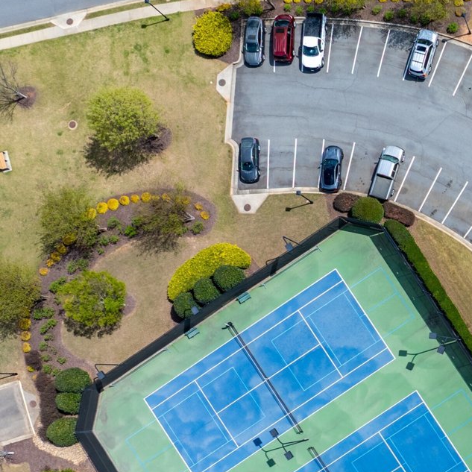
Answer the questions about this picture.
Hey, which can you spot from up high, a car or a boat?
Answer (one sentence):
I can see a car in this picture.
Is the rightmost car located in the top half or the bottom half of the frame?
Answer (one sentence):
The top half of the photo is where the rightmost car is.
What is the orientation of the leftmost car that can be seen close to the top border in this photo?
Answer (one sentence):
In this picture, the leftmost car that can be seen close to the top border is oriented up and down.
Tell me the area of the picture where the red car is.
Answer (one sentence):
The red car is located in the top region of the scene.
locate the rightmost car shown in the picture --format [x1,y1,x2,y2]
[409,29,437,80]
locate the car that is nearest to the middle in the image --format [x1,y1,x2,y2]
[237,136,261,184]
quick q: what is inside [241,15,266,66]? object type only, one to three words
car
